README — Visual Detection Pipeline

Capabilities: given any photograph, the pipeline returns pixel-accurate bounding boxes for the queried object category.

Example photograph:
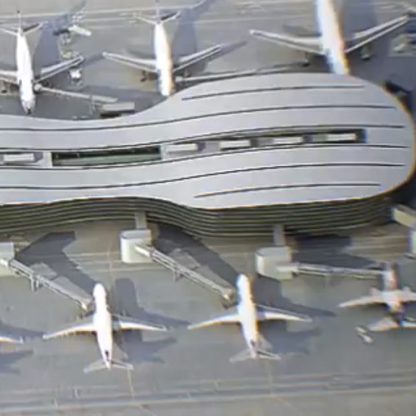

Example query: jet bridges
[172,60,302,85]
[2,254,95,312]
[279,258,388,290]
[139,240,238,302]
[32,81,116,111]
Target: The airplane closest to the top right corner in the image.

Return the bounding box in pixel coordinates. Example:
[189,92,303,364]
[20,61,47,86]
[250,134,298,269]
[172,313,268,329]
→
[255,0,410,76]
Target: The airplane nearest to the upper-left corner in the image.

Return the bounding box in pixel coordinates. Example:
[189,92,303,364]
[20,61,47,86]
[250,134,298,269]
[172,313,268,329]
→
[0,13,83,113]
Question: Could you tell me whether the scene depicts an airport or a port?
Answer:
airport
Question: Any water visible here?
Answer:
No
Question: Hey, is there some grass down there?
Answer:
No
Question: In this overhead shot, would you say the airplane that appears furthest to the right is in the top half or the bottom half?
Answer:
bottom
